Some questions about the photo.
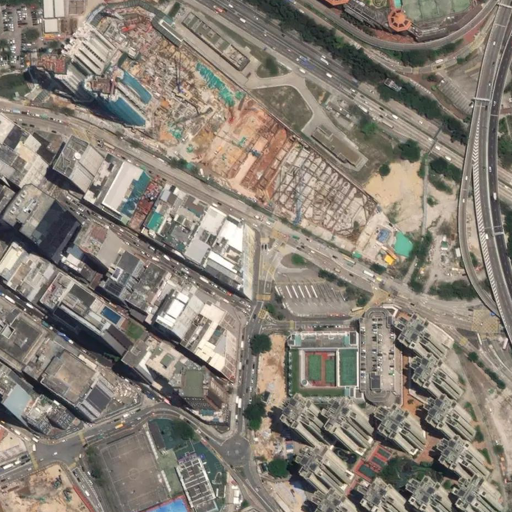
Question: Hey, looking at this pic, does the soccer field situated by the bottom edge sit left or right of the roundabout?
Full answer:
The roundabout has the soccer field situated by the bottom edge on its left side.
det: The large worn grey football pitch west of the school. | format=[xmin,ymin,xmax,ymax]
[97,427,172,512]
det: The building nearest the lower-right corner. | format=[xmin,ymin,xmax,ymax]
[450,472,507,512]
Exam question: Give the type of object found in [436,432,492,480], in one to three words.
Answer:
building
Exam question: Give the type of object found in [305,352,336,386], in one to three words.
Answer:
sports court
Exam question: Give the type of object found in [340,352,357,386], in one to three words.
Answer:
sports court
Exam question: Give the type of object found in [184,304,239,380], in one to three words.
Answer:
building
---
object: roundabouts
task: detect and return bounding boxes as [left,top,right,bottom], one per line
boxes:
[222,434,250,465]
